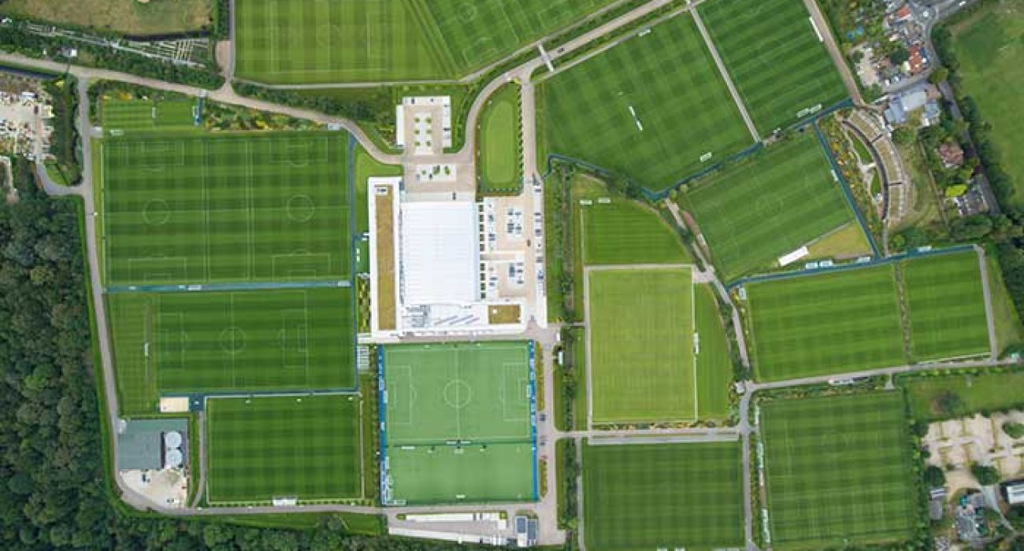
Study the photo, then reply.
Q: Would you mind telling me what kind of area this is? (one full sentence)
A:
It's a sports ground.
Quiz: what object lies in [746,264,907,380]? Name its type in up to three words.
soccer field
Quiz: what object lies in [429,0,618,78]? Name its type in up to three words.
soccer field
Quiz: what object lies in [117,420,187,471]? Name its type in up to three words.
shed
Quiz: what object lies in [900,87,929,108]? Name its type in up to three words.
barn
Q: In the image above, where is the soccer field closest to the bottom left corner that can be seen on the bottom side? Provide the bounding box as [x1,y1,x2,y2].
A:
[110,292,160,415]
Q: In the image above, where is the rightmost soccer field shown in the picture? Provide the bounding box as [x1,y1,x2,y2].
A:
[903,250,992,363]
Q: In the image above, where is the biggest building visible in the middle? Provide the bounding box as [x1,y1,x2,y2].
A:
[358,176,544,343]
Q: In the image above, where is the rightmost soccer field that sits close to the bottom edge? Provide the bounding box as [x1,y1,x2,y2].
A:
[760,392,916,543]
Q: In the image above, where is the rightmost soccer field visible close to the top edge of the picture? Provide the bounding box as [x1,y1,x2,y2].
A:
[694,0,849,136]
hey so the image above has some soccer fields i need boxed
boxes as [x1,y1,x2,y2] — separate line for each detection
[206,394,361,504]
[584,442,745,551]
[680,130,855,281]
[110,292,160,415]
[228,131,350,283]
[746,264,907,380]
[581,199,689,264]
[104,132,228,285]
[696,285,729,420]
[590,267,699,424]
[694,0,849,136]
[542,13,757,190]
[158,286,354,392]
[760,392,916,543]
[386,443,535,504]
[236,0,462,83]
[384,342,532,444]
[903,250,992,363]
[429,0,618,78]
